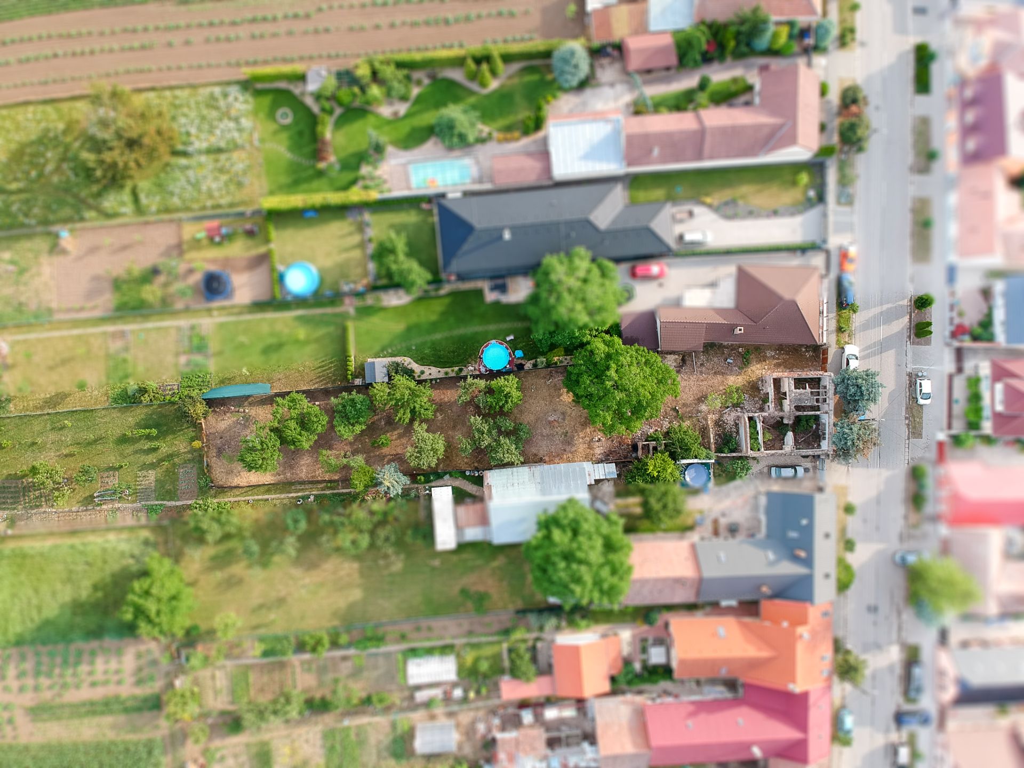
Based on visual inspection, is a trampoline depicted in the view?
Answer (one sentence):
Yes, there's a trampoline here.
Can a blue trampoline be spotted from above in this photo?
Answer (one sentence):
Yes, there is a blue trampoline in the image.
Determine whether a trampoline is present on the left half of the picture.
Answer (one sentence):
Yes, a trampoline can be seen on the left half of the picture.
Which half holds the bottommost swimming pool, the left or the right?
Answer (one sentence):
The bottommost swimming pool sits on the right side.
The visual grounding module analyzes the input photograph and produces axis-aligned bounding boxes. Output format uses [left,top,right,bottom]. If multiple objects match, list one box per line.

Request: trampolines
[203,271,232,299]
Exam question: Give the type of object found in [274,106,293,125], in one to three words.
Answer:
fountain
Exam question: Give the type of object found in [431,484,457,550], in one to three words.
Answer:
shed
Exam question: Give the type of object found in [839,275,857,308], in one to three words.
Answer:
vehicle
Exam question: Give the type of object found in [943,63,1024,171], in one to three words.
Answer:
house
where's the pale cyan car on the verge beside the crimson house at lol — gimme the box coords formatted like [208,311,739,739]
[836,707,853,738]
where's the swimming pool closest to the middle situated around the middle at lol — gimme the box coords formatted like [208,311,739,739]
[482,342,510,370]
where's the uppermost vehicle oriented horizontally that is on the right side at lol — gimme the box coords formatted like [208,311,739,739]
[677,229,711,245]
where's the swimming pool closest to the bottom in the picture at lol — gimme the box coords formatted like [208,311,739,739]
[683,463,710,489]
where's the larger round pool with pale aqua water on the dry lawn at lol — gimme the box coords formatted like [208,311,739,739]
[283,260,321,298]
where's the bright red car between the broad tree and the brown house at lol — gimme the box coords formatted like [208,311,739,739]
[632,263,666,279]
